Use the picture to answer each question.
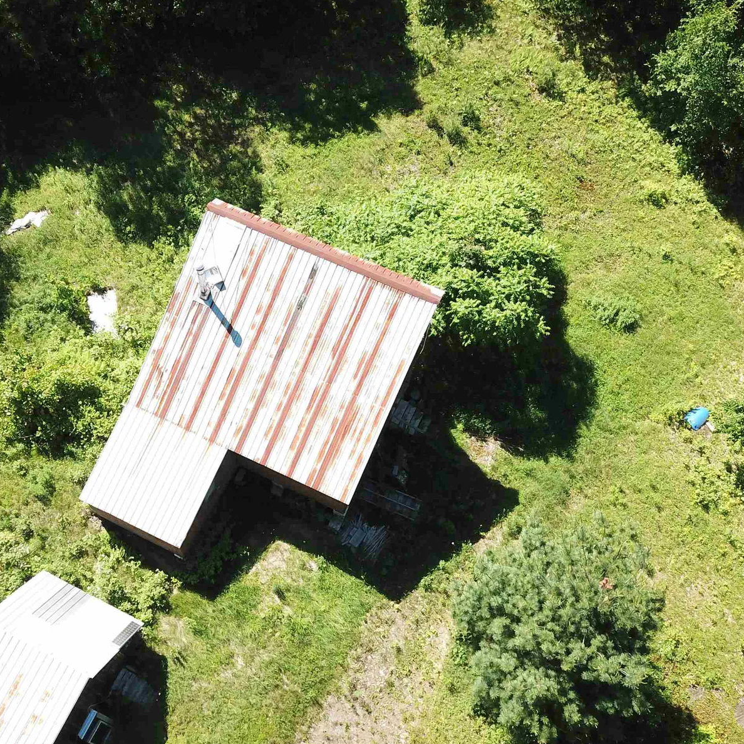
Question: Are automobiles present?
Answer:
No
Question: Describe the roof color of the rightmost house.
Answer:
white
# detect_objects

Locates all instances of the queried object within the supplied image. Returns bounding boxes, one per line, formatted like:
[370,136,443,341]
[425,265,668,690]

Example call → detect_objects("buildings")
[87,197,445,559]
[0,570,146,744]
